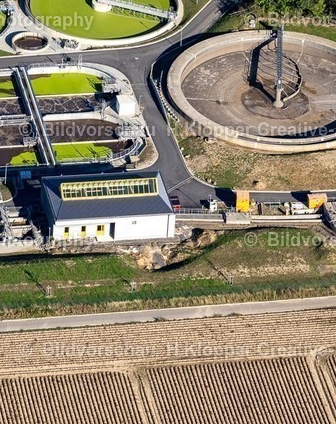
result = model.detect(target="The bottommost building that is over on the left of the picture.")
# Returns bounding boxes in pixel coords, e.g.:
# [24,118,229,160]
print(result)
[46,171,176,243]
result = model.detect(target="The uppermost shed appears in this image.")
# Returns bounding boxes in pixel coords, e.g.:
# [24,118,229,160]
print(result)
[115,93,137,116]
